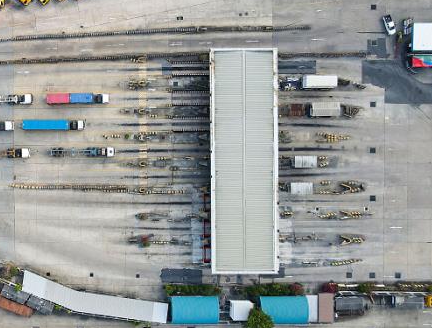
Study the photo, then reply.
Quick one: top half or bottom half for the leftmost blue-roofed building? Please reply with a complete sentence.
The leftmost blue-roofed building is in the bottom half of the image.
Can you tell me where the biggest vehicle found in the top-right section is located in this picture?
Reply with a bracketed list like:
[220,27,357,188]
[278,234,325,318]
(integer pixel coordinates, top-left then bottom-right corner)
[381,15,394,35]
